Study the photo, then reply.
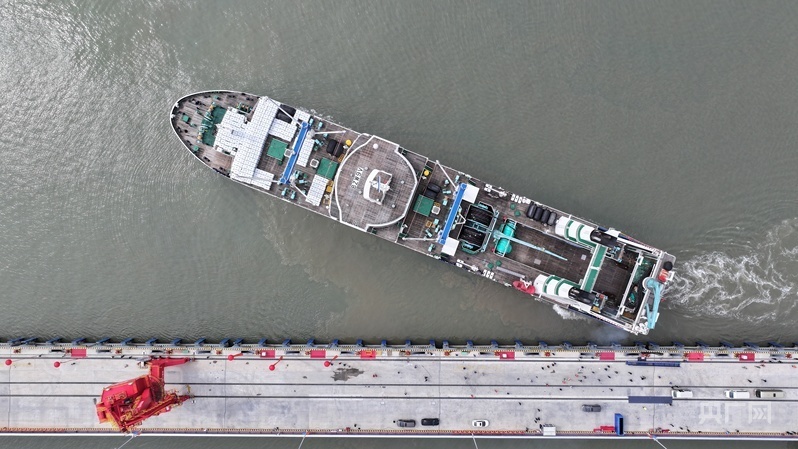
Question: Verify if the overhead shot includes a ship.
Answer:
Yes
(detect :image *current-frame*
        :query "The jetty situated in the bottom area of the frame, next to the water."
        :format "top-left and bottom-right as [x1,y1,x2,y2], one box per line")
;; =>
[0,342,798,440]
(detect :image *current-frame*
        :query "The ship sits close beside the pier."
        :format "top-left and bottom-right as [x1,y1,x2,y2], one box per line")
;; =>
[170,87,677,338]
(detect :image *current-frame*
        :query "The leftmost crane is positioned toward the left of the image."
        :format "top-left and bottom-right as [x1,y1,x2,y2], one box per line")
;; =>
[93,353,197,433]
